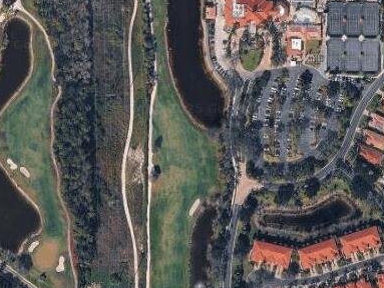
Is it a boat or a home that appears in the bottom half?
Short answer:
home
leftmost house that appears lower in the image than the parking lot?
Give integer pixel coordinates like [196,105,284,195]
[250,241,290,267]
